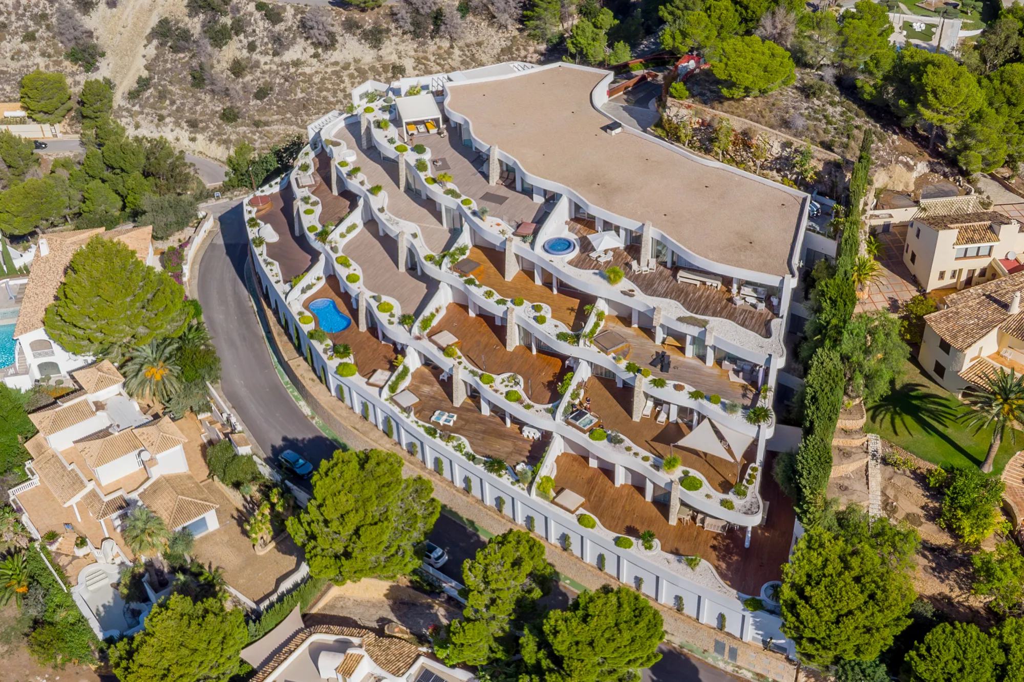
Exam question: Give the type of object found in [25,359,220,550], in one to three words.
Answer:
house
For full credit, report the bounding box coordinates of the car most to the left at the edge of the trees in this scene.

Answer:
[17,140,51,153]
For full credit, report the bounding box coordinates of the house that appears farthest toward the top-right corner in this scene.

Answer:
[905,203,1024,306]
